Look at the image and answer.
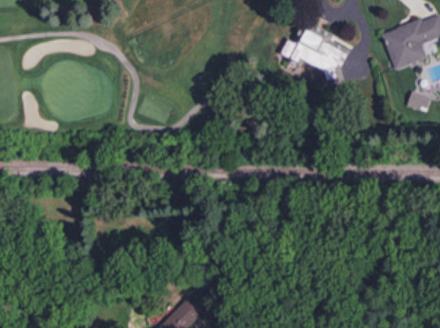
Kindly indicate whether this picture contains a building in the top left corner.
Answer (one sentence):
No, there is no building in the top left corner.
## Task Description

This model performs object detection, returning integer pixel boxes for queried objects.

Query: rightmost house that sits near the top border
[384,14,440,68]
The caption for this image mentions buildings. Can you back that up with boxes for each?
[410,92,430,112]
[384,14,440,68]
[162,298,202,328]
[282,30,350,78]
